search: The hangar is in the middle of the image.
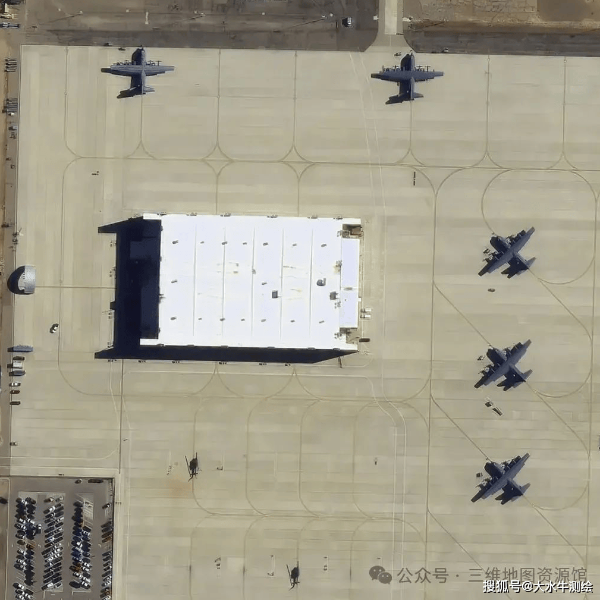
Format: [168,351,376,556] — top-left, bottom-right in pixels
[131,214,361,351]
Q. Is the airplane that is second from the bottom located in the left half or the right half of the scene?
right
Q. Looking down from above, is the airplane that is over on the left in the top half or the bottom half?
top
